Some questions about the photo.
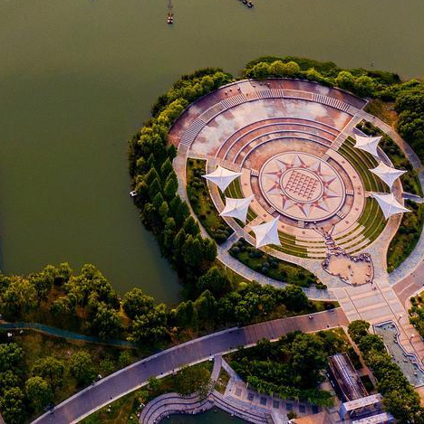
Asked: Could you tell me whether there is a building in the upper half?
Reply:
No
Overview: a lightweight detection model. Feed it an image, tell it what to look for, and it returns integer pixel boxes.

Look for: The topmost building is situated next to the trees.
[321,355,366,412]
